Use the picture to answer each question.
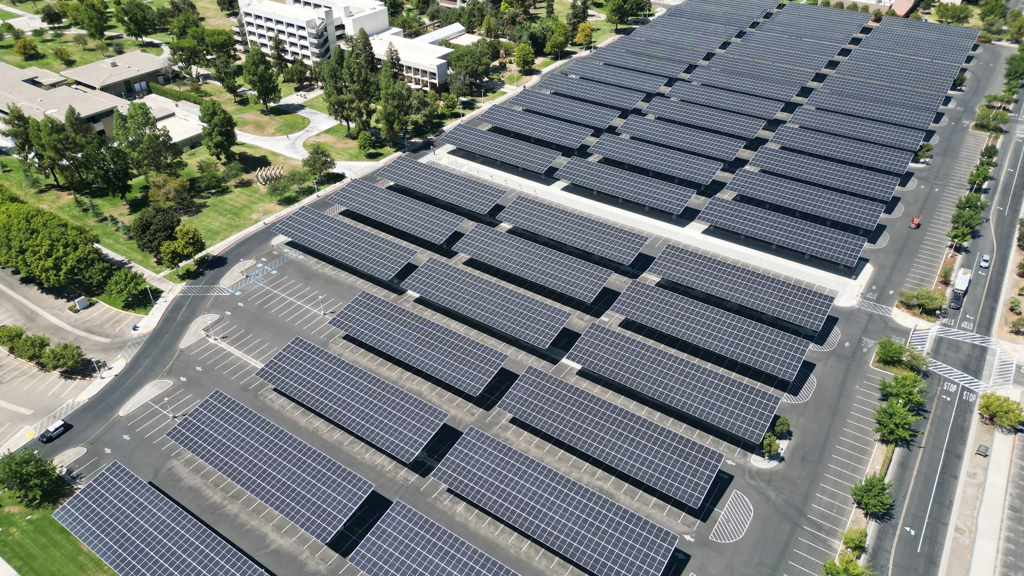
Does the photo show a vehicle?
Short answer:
Yes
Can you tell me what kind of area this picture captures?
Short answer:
solar farm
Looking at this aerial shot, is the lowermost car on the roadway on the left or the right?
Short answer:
left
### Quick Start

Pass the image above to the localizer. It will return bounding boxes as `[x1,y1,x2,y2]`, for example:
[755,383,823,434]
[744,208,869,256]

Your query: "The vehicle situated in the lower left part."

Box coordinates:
[38,415,73,441]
